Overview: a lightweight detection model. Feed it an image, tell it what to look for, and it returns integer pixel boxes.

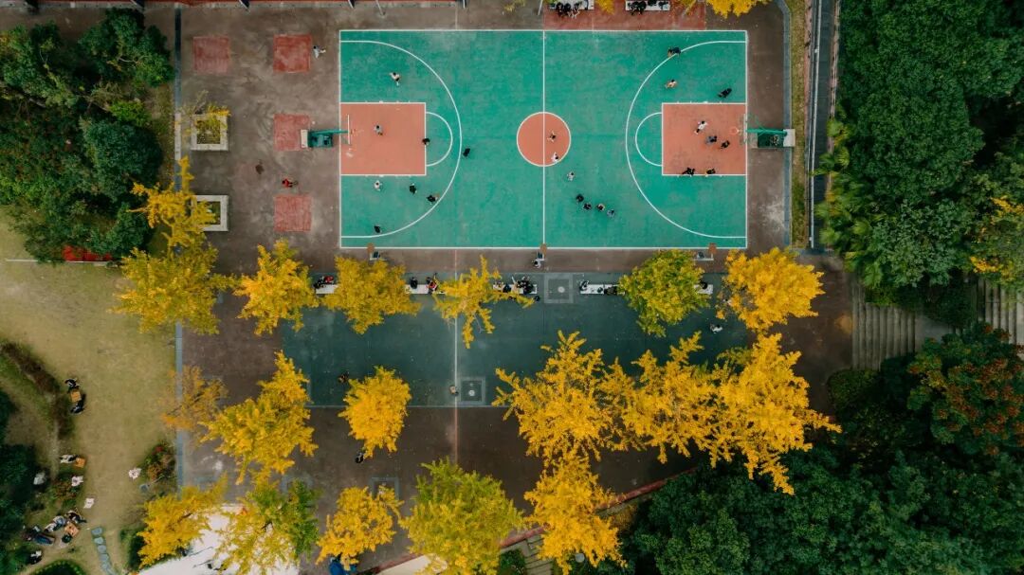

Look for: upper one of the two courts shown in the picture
[340,30,748,248]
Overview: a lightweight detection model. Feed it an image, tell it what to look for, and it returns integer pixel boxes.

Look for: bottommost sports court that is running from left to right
[283,273,750,408]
